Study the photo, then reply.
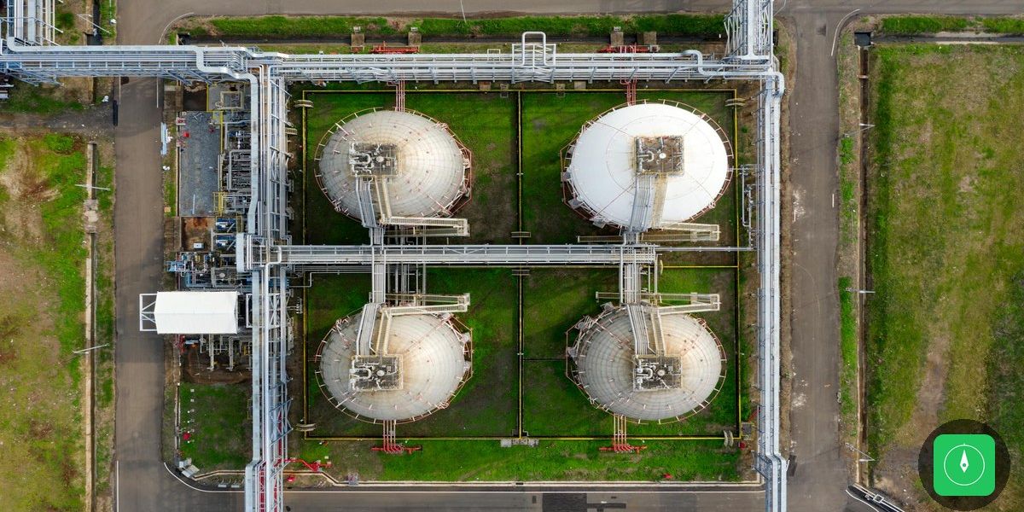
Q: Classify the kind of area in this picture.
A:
industrial area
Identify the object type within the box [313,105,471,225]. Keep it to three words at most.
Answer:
storage tank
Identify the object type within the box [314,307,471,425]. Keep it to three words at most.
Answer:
storage tank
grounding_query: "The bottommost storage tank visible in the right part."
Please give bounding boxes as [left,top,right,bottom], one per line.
[565,309,729,426]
